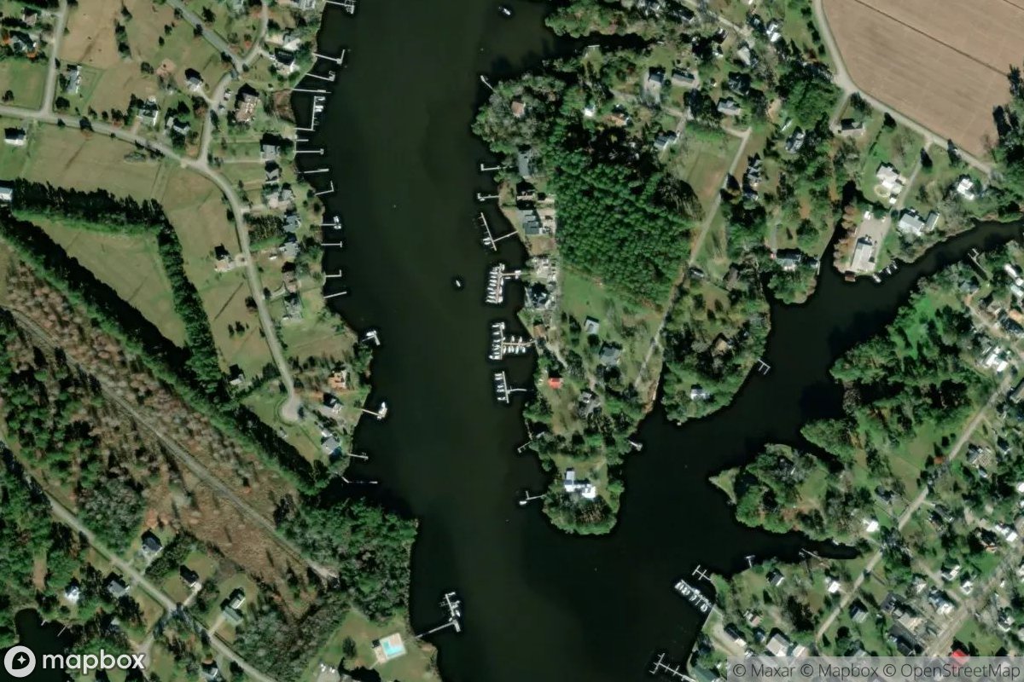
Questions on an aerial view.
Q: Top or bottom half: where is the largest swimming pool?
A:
bottom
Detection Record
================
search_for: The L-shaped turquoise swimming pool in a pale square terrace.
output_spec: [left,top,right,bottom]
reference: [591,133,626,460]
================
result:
[377,633,406,660]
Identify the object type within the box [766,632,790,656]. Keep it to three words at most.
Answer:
building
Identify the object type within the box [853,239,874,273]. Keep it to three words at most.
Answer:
building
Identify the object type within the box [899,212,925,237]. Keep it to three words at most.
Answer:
house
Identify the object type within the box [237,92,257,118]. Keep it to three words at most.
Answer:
house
